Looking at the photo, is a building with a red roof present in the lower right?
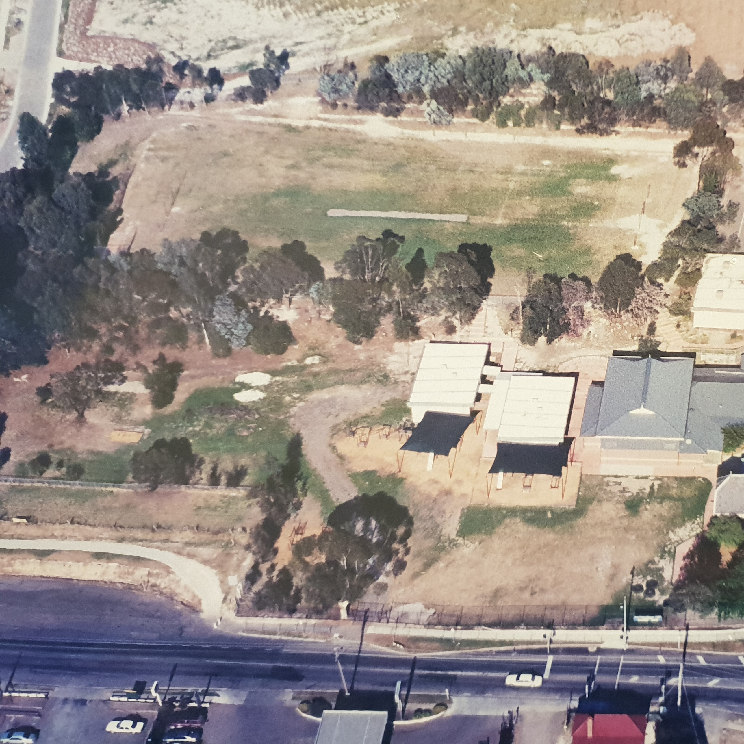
Yes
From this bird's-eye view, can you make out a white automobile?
Yes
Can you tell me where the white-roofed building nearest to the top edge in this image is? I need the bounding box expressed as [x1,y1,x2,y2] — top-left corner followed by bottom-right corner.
[691,254,744,324]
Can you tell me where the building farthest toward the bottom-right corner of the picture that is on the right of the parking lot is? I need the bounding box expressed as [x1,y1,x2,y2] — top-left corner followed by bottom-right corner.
[572,713,647,744]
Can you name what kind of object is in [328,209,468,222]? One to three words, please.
sports field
